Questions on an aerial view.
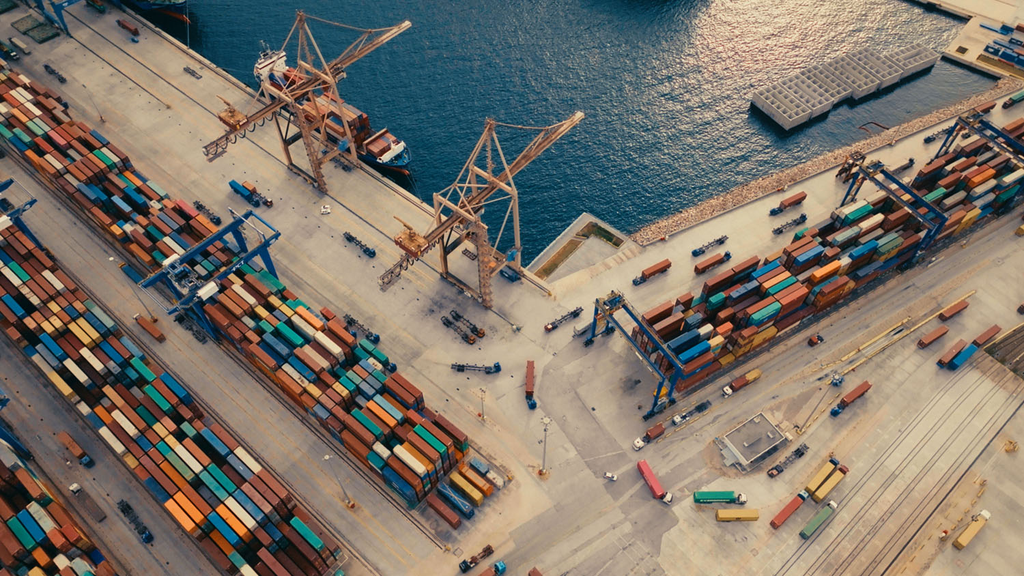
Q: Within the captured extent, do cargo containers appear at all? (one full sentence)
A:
Yes, there is a cargo container in the image.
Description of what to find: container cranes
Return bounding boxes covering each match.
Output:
[374,109,588,310]
[930,111,1024,213]
[195,5,411,195]
[0,178,50,256]
[35,0,87,37]
[836,158,955,269]
[585,288,688,418]
[137,208,282,342]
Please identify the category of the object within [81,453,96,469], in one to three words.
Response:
vehicle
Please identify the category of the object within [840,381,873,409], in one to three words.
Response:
shipping container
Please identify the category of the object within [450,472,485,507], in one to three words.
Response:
shipping container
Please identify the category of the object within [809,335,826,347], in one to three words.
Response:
vehicle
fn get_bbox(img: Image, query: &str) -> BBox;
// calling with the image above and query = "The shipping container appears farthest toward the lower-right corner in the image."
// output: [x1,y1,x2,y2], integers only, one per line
[953,514,989,549]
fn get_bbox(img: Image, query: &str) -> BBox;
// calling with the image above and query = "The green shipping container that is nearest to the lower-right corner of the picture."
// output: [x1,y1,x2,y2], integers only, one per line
[800,505,835,540]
